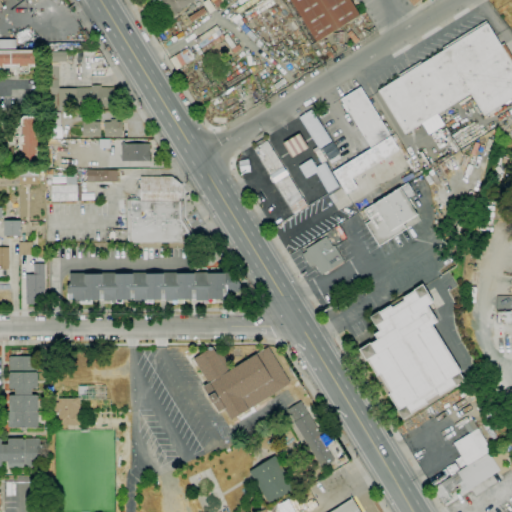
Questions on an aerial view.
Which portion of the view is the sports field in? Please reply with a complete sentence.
The sports field appears toward the bottom left of the photo.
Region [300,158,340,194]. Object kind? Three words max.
building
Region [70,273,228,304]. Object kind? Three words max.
building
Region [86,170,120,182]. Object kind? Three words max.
house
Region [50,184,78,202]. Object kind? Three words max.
shed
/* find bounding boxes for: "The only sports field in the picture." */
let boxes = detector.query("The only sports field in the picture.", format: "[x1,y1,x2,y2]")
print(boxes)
[54,430,116,512]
